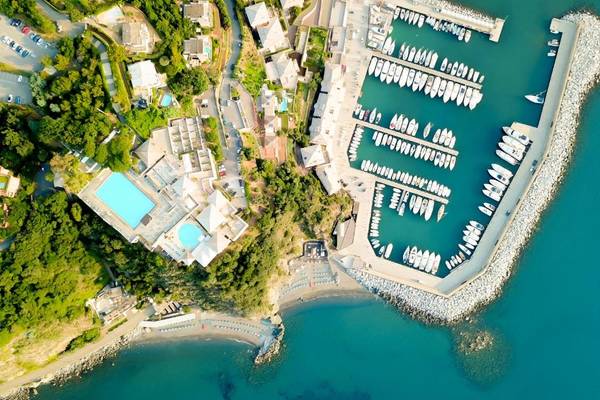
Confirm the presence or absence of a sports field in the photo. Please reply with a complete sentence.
No, there appears to be no sports field in this shot.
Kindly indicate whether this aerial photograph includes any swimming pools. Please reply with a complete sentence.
Yes, the picture does show a swimming pool.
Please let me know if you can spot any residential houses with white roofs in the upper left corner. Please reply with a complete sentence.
Yes, a residential house with a white roof shows up in the upper left corner.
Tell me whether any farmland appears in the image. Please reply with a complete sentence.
No, the picture contains no farmland.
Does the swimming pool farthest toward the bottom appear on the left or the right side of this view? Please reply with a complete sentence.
The swimming pool farthest toward the bottom is on the left side of the image.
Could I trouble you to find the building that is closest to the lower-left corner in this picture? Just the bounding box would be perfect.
[87,285,135,322]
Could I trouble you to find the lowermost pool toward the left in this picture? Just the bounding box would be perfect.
[177,221,203,249]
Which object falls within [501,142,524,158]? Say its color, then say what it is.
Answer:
white boat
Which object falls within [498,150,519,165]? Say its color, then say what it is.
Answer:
white boat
